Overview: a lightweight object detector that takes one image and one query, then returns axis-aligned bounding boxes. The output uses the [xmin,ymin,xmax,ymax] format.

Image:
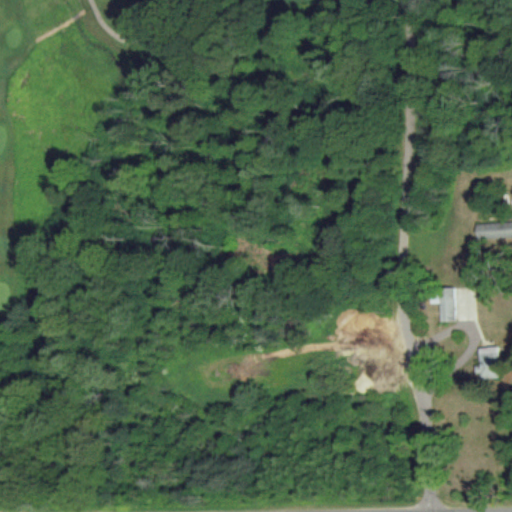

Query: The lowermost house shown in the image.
[475,348,500,383]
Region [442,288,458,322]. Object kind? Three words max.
house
